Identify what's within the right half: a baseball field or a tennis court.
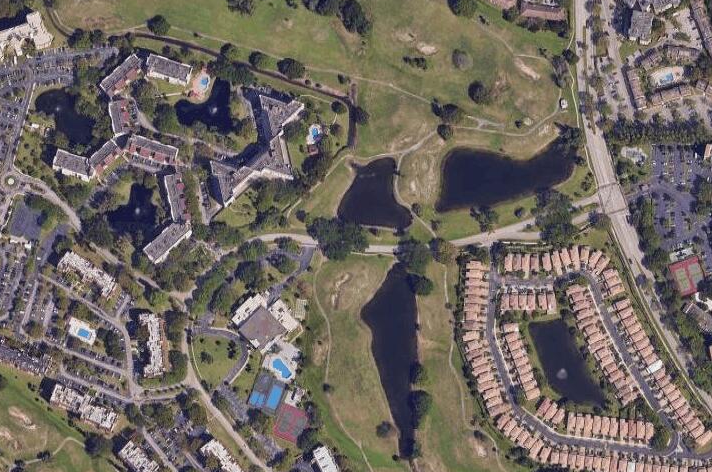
tennis court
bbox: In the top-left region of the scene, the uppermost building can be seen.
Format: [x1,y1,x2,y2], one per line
[0,11,56,63]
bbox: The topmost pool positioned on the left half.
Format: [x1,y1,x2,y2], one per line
[188,67,210,100]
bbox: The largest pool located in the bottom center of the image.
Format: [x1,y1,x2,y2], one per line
[262,340,301,382]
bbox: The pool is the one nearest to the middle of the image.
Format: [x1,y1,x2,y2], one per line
[307,124,320,143]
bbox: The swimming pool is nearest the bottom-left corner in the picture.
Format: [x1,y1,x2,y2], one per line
[68,317,95,344]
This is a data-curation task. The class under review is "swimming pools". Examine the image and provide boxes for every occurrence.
[649,65,684,84]
[188,67,210,100]
[262,340,301,382]
[68,317,95,344]
[307,124,320,143]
